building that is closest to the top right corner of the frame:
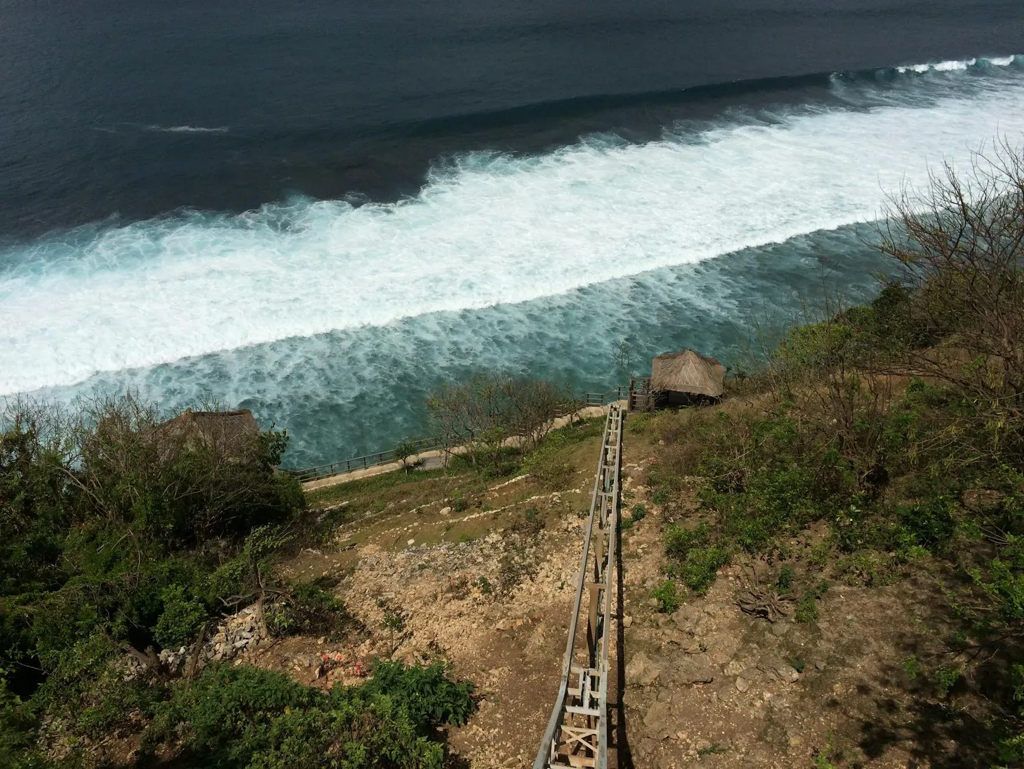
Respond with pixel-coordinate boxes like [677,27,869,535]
[654,348,732,414]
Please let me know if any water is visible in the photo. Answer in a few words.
Yes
